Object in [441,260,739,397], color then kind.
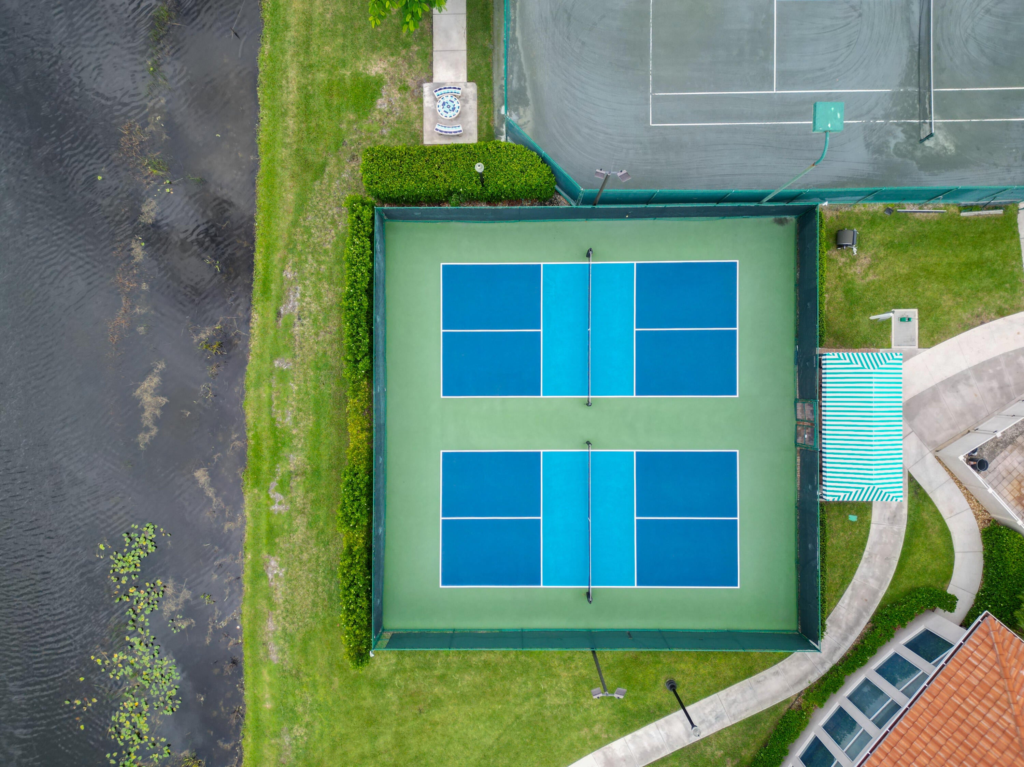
blue sports court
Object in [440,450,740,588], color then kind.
blue sports court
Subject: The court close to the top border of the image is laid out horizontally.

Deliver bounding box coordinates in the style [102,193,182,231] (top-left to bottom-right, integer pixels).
[494,0,1024,205]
